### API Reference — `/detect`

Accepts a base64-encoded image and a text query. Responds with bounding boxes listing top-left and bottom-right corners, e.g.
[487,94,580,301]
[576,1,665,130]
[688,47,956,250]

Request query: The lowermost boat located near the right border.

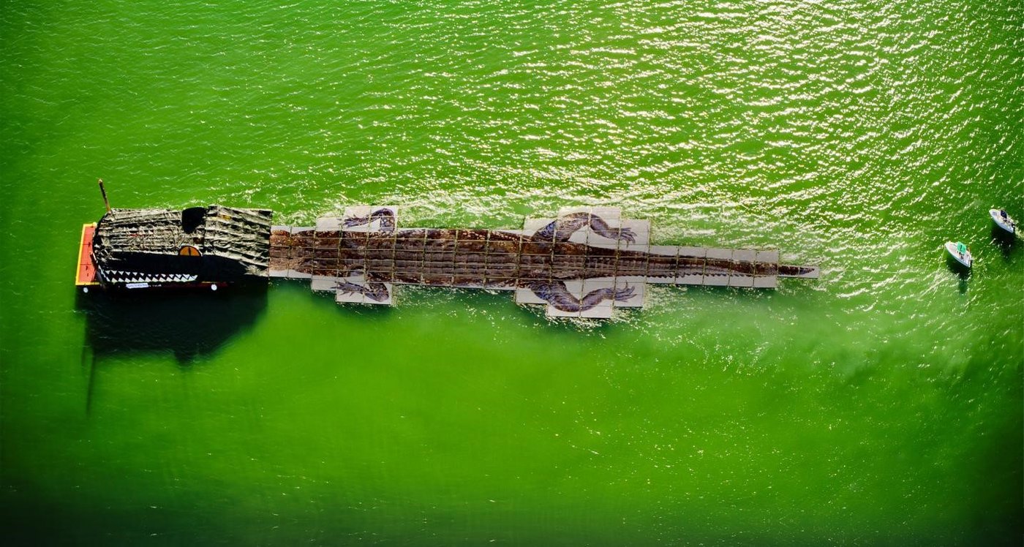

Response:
[946,242,976,271]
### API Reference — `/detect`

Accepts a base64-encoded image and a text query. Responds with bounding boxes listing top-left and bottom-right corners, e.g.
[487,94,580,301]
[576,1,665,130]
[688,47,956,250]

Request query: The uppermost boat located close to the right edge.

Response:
[990,209,1018,236]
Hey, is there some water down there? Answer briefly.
Yes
